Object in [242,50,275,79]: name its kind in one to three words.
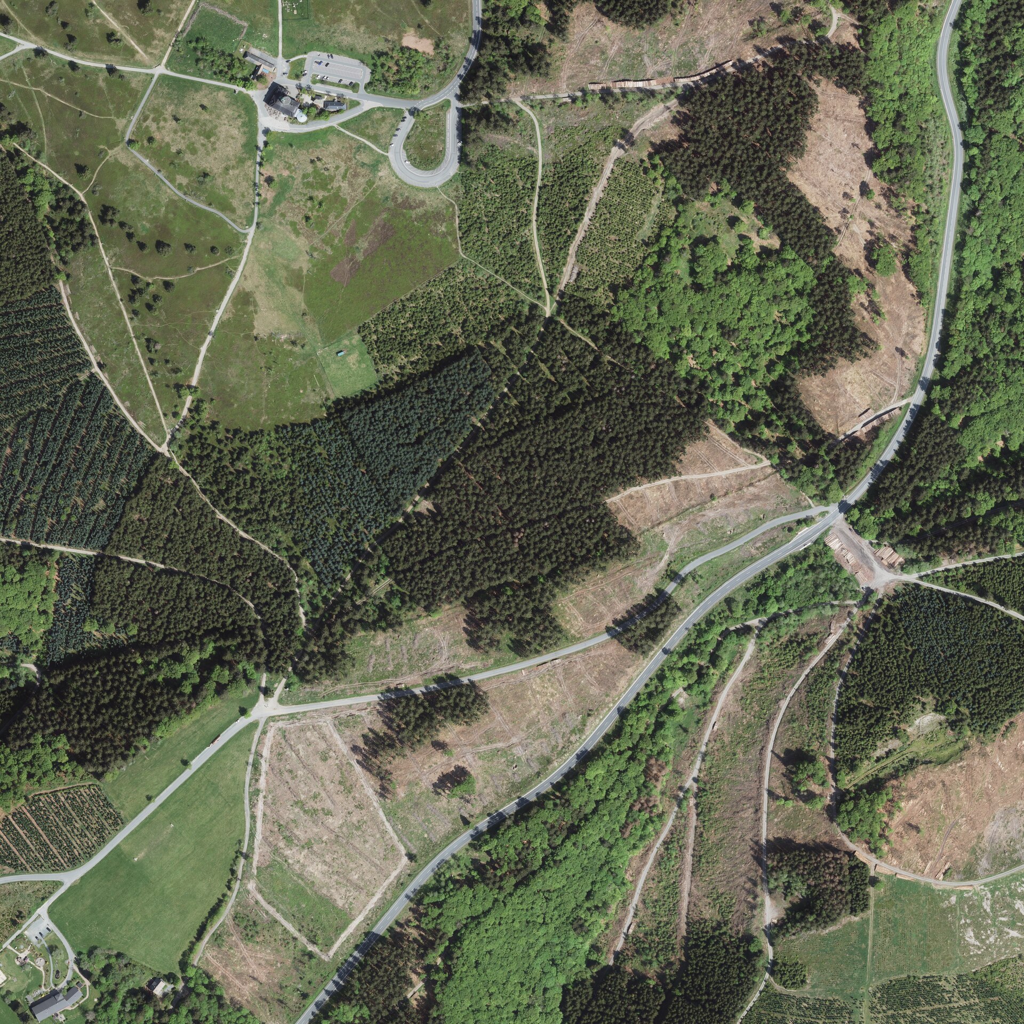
barn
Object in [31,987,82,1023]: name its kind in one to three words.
building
